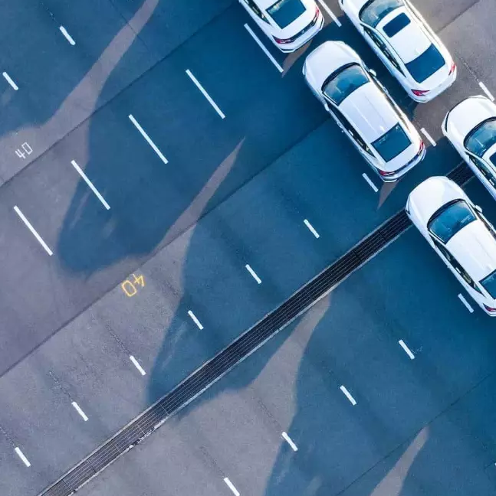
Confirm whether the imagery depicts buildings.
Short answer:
No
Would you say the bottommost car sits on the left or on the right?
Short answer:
right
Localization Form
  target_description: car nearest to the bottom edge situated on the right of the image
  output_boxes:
[406,177,496,314]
